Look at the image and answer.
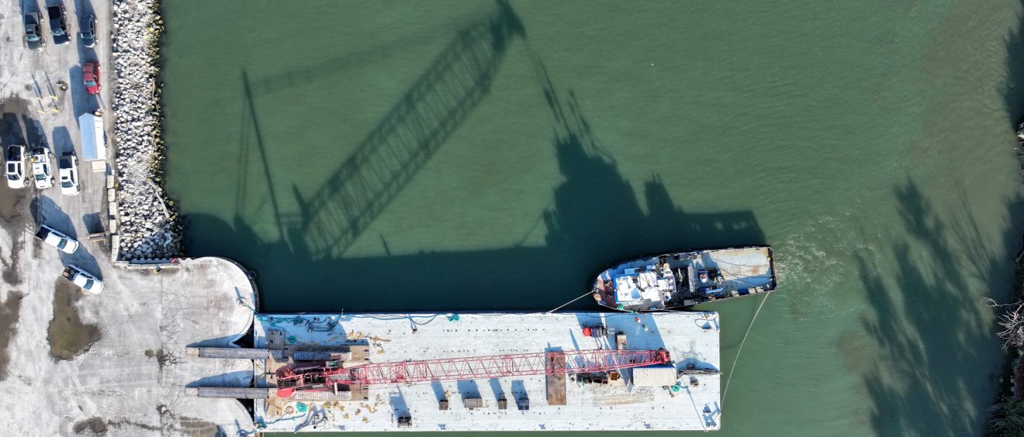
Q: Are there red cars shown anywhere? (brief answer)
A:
Yes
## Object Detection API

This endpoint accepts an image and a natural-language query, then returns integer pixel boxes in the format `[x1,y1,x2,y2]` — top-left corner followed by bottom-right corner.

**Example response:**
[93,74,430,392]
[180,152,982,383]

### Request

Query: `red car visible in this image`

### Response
[83,60,103,96]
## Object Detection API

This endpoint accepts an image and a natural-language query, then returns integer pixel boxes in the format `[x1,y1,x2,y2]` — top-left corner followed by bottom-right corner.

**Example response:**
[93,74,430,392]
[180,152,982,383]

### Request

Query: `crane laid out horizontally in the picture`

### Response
[266,339,673,406]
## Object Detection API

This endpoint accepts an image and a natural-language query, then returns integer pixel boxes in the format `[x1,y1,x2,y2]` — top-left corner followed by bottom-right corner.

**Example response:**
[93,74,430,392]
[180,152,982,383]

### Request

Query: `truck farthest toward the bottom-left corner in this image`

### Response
[60,262,107,294]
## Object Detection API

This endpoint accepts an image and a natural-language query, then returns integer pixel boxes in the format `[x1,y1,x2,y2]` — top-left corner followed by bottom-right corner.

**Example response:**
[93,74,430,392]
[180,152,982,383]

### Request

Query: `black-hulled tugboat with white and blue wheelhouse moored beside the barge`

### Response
[591,244,777,312]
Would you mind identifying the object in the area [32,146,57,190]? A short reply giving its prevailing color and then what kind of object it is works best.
white truck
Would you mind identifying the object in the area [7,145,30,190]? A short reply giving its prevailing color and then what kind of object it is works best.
white truck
